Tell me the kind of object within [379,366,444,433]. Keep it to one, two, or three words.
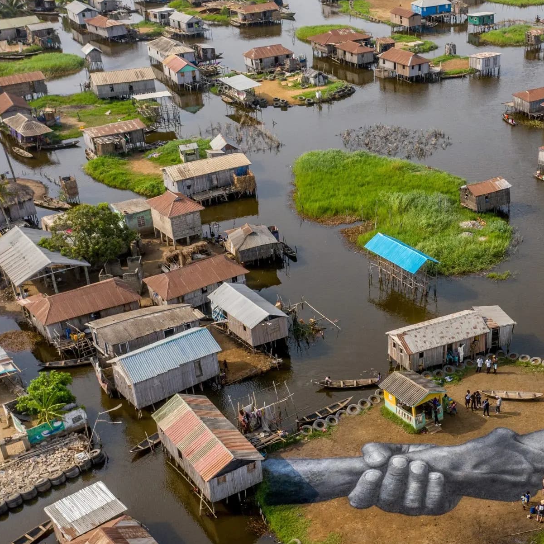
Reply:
building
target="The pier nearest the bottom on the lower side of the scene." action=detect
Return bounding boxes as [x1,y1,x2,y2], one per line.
[245,428,286,457]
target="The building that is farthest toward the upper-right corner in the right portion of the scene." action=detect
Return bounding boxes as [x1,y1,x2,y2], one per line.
[523,28,544,50]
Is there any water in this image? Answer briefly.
Yes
